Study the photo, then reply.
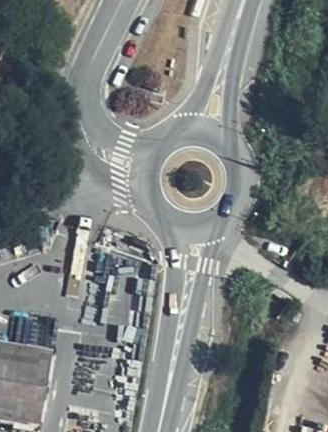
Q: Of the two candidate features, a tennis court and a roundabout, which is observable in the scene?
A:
roundabout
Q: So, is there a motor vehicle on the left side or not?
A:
Yes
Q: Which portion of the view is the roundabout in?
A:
center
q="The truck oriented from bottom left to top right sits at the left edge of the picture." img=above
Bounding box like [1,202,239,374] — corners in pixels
[10,264,42,288]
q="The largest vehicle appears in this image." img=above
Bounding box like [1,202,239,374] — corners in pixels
[68,215,94,298]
